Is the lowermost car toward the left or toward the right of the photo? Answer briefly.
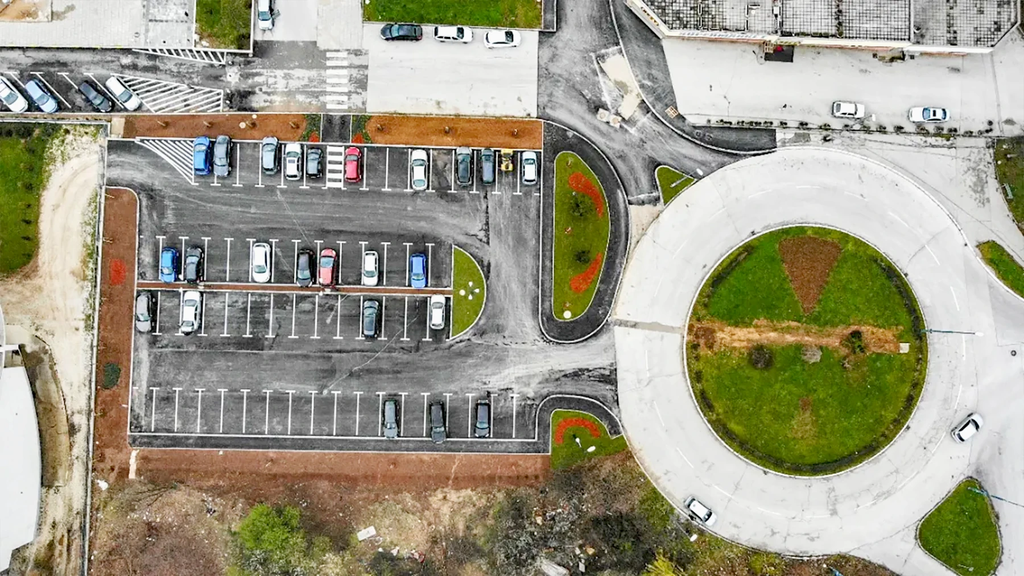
right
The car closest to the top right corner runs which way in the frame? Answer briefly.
from side to side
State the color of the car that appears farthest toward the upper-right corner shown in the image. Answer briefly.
white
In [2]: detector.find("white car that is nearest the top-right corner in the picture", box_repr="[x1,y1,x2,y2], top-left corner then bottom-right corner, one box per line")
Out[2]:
[905,103,951,124]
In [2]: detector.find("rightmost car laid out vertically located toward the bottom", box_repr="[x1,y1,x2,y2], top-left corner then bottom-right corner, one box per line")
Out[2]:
[473,398,492,439]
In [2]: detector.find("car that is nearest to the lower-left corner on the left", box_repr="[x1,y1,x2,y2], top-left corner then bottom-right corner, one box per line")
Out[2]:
[132,292,156,333]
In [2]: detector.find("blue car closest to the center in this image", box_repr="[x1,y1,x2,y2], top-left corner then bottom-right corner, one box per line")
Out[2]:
[408,251,427,289]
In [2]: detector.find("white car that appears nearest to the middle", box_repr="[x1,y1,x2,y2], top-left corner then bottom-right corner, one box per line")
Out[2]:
[428,293,447,331]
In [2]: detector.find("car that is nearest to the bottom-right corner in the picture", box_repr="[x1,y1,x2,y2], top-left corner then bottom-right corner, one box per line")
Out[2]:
[947,410,984,444]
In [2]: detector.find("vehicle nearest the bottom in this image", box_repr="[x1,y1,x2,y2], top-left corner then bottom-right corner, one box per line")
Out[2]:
[681,493,718,527]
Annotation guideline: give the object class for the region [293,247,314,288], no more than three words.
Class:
car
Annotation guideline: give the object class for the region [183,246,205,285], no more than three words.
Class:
car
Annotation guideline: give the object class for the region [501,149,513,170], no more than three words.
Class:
vehicle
